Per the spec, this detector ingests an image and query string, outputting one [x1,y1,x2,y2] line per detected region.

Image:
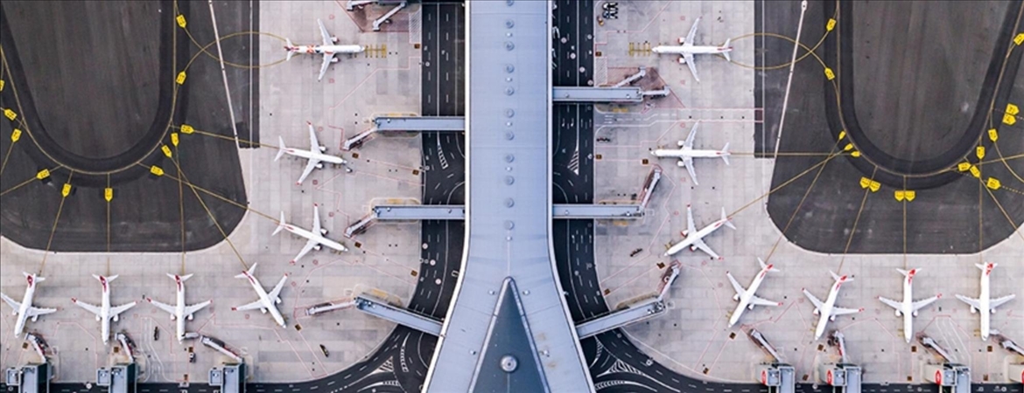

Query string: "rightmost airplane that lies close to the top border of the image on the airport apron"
[651,19,731,78]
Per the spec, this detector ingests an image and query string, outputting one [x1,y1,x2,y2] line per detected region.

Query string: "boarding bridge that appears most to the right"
[998,340,1024,360]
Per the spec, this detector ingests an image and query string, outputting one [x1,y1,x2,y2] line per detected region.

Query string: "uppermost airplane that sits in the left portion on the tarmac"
[286,19,365,78]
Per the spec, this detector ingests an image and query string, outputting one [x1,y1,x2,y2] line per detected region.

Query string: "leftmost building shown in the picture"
[6,362,56,393]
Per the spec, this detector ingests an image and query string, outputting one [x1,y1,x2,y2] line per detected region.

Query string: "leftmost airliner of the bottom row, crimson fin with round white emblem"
[0,273,56,337]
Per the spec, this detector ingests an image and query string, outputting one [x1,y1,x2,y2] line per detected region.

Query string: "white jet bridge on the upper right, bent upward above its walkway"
[613,66,645,86]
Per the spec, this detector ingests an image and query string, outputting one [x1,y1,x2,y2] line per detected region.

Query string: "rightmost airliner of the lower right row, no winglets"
[954,265,1015,341]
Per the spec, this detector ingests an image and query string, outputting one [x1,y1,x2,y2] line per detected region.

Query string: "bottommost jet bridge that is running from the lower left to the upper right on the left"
[344,213,375,238]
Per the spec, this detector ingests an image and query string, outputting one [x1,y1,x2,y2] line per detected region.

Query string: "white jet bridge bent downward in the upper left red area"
[374,3,406,31]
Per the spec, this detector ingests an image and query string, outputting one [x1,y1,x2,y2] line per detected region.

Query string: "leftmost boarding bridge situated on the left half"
[24,333,55,365]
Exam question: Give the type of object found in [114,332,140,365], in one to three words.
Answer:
jet bridge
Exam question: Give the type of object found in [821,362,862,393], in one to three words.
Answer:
building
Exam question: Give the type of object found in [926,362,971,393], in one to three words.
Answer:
building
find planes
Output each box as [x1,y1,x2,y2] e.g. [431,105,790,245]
[276,121,347,184]
[72,277,136,344]
[0,273,56,337]
[803,273,864,341]
[147,276,211,344]
[878,271,943,343]
[726,259,783,327]
[651,19,731,78]
[286,19,365,78]
[651,124,731,182]
[231,264,285,327]
[954,265,1015,341]
[275,203,347,262]
[665,203,735,259]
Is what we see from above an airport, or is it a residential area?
airport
